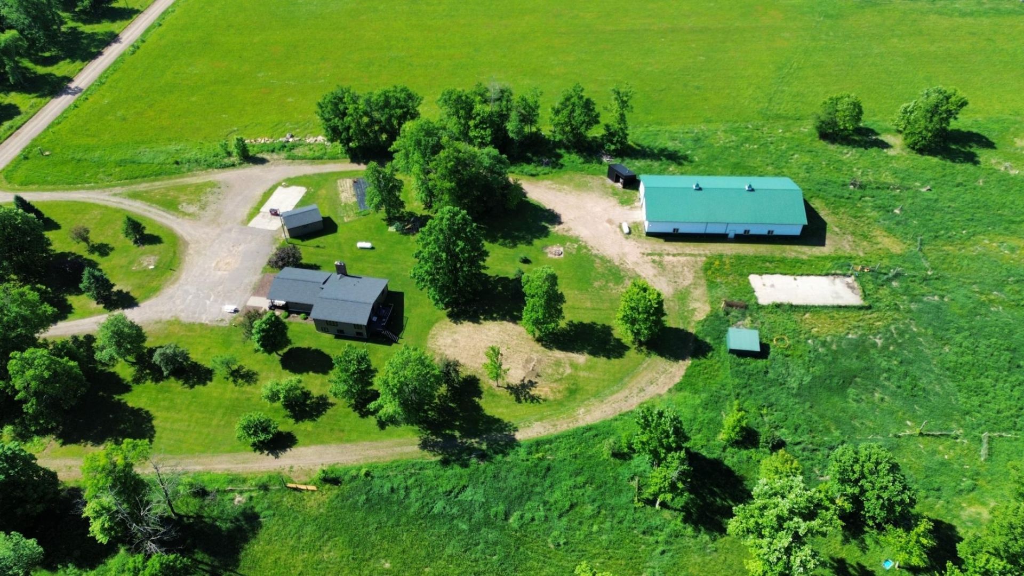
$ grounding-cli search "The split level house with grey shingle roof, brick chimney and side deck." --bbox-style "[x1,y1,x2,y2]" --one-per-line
[266,261,399,343]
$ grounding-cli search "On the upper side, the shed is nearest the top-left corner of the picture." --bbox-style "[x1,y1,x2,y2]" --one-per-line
[281,204,323,238]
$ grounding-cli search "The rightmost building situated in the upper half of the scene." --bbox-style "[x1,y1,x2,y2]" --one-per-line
[636,175,808,237]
